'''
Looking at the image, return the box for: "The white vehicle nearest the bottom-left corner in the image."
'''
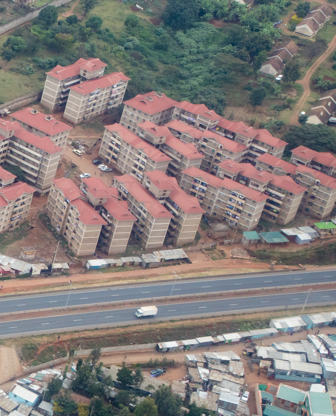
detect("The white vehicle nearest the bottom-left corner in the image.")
[137,304,160,317]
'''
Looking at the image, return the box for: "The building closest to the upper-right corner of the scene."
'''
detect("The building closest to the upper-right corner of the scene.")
[298,1,328,36]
